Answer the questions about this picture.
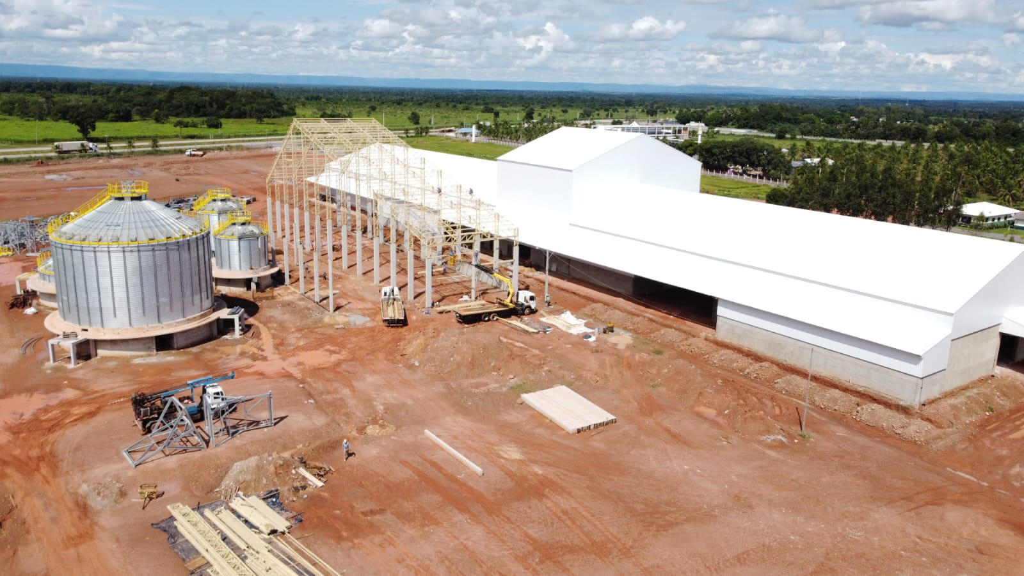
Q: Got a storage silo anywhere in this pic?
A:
Yes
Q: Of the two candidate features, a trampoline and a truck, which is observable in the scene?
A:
truck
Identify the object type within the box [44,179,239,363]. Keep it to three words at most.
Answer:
silo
